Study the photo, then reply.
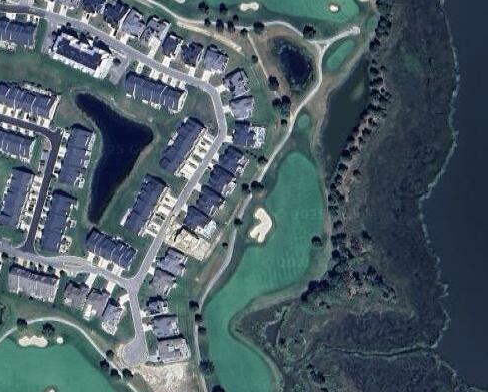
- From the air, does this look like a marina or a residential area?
residential area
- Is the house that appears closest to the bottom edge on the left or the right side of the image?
left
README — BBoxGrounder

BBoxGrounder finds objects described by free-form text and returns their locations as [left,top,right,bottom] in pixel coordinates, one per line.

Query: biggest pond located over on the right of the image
[321,59,375,185]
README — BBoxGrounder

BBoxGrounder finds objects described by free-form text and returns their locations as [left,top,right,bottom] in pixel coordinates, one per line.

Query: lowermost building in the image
[144,335,191,364]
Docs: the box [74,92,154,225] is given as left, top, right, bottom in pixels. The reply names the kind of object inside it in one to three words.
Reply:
pond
